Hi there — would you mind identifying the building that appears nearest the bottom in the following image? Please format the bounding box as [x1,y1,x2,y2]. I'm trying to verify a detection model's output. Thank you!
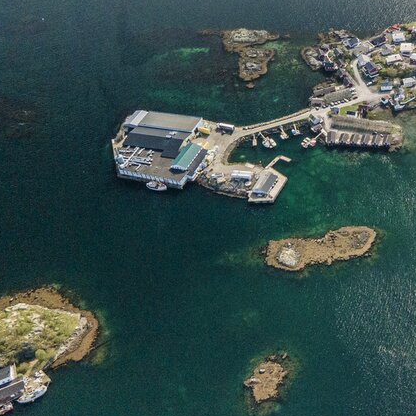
[0,376,24,409]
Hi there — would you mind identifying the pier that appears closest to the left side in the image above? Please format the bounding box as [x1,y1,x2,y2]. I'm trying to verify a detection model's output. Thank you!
[18,370,52,403]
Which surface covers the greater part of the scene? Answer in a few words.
water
